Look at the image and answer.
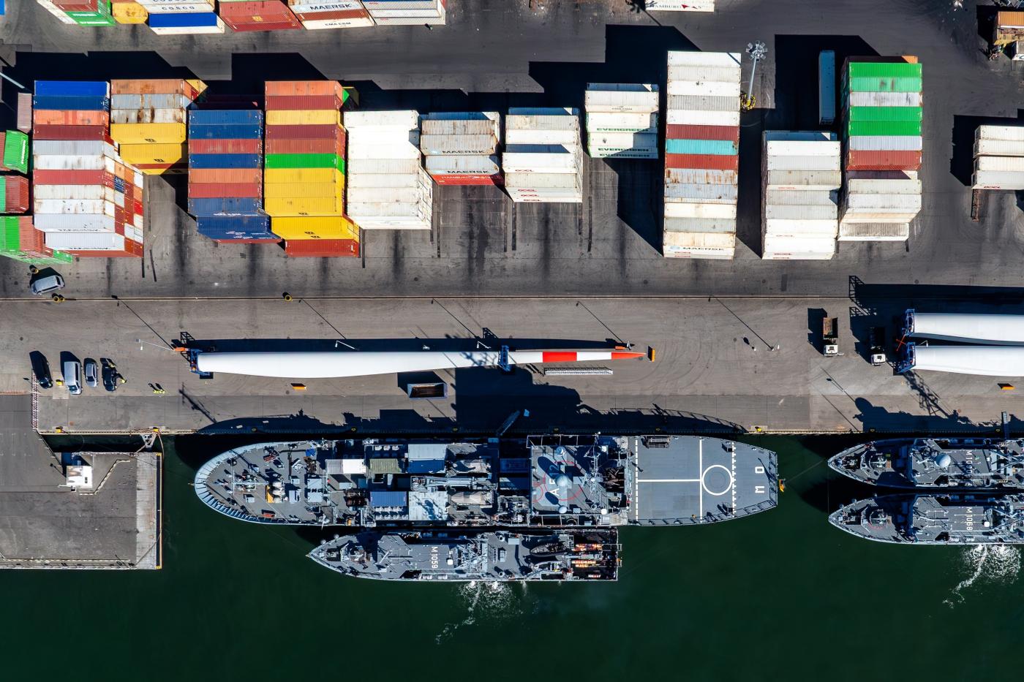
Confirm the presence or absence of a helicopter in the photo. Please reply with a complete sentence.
No, there's no helicopter here.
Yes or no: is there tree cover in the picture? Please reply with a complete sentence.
No, no tree cover is visible.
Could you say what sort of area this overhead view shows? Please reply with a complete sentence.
The area seen from above is a port.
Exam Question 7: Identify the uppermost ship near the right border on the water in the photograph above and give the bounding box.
[830,432,1024,489]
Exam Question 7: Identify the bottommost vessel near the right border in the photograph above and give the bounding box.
[830,490,1024,547]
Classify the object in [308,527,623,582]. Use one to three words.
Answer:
ship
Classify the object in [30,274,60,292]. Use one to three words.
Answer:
vehicle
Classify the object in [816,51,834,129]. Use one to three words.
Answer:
trailer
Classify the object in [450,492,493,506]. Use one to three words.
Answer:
boat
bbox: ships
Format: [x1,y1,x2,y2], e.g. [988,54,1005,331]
[830,490,1024,547]
[308,527,623,582]
[194,430,787,527]
[830,432,1024,489]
